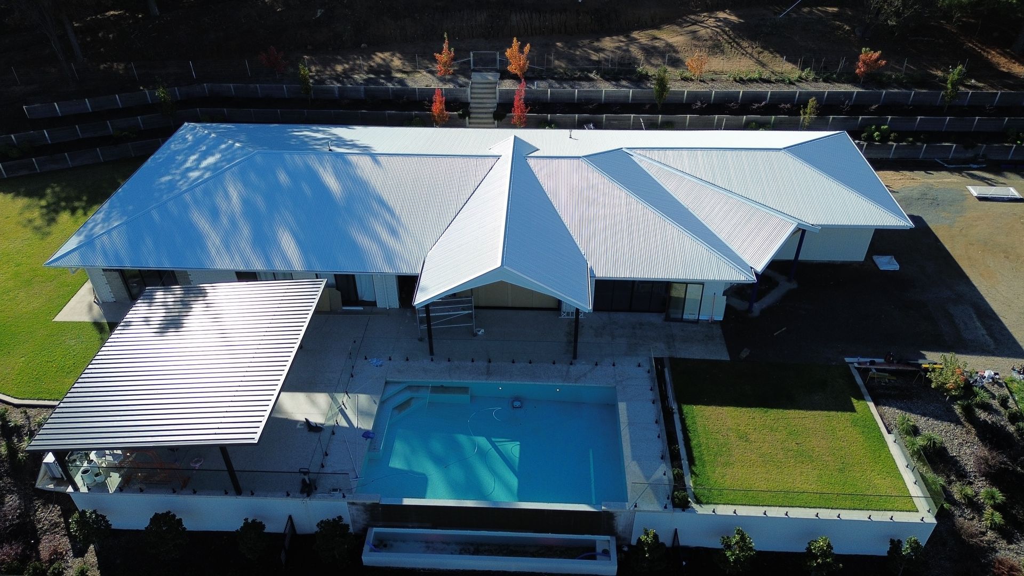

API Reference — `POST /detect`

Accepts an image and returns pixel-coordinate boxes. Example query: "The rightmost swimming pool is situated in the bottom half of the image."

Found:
[355,382,628,516]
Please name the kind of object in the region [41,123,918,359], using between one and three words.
house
